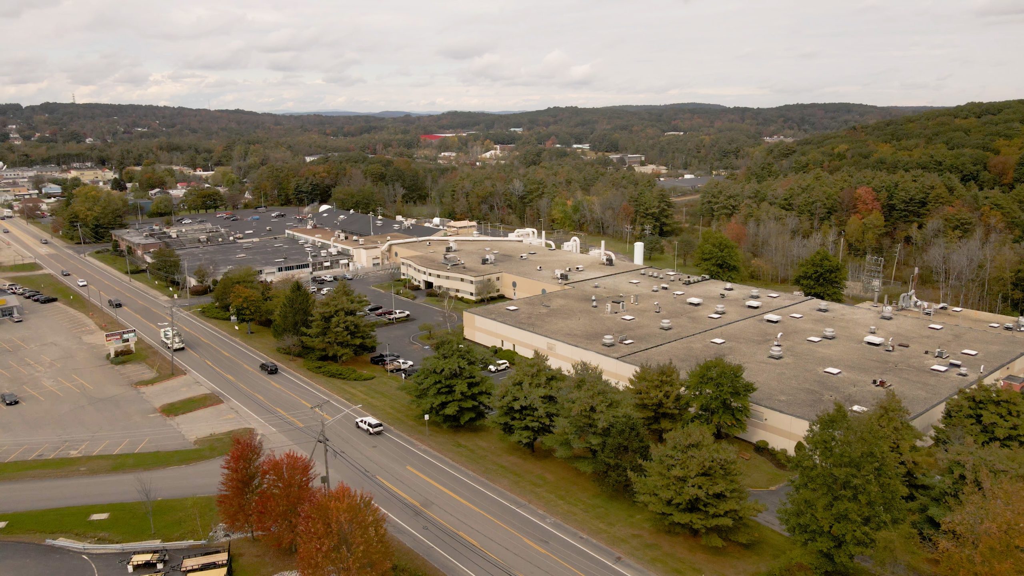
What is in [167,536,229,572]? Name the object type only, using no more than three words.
trailer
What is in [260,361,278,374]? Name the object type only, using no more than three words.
vehicle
